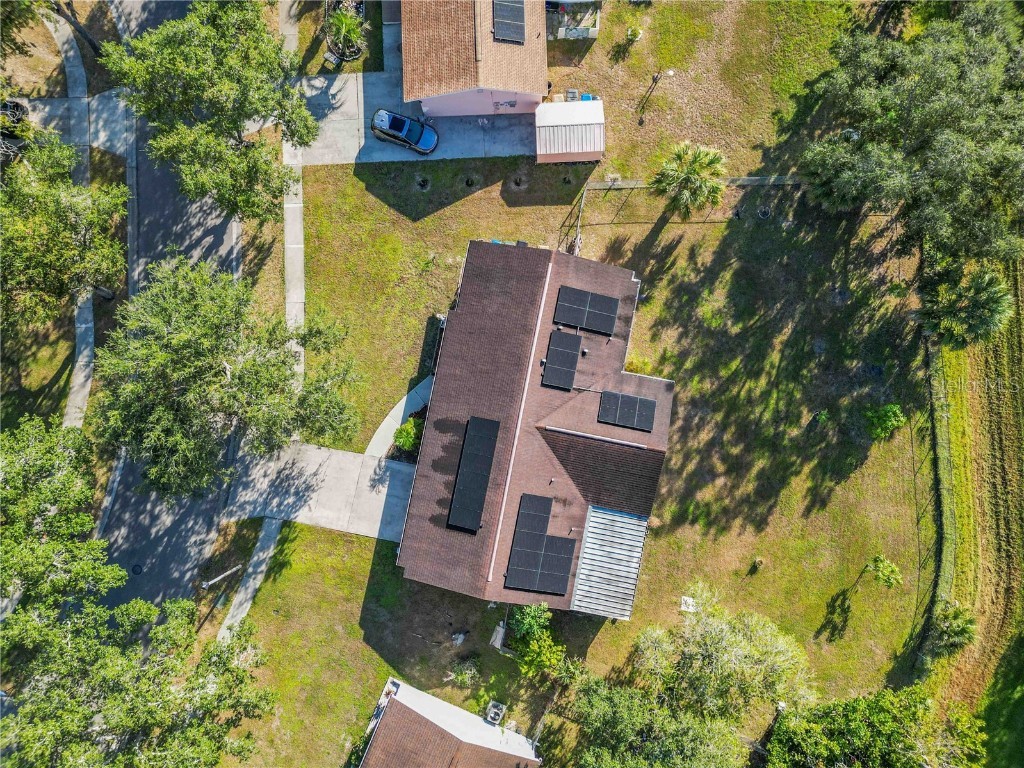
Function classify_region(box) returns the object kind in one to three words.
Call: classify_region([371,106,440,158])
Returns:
car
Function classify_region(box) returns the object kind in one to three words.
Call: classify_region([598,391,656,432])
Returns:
solar array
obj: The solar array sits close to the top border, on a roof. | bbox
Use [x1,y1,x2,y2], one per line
[493,0,524,44]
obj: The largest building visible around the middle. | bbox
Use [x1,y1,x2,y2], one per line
[395,241,676,620]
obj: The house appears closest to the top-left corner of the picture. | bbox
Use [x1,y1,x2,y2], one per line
[402,0,548,116]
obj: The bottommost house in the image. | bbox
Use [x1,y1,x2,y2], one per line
[360,681,540,768]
